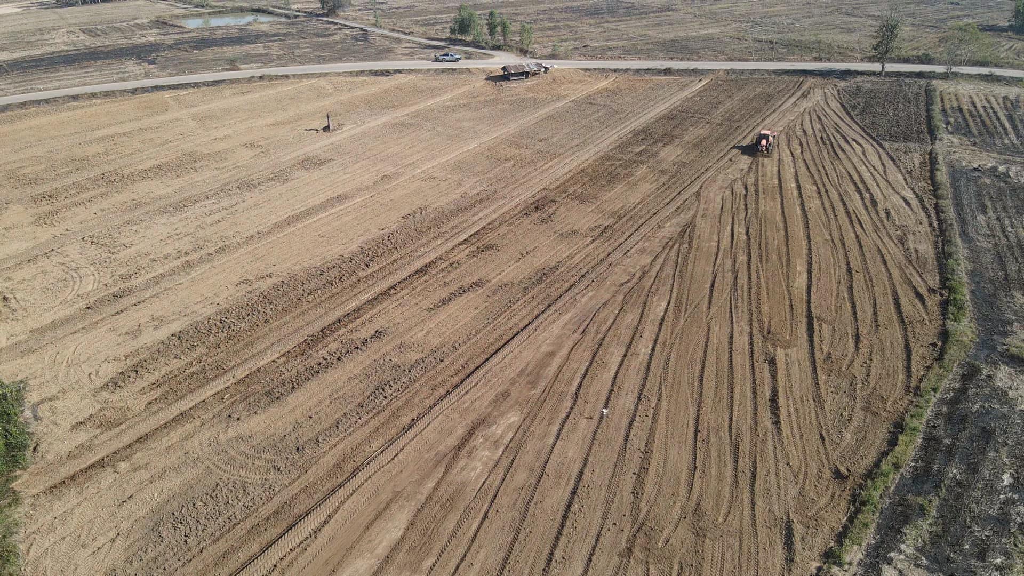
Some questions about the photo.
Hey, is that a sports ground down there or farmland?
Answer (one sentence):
The area seen from above is farmland.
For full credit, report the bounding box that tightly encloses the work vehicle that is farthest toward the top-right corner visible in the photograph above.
[752,128,774,155]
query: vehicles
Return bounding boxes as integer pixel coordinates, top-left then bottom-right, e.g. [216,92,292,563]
[436,52,462,62]
[752,128,774,155]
